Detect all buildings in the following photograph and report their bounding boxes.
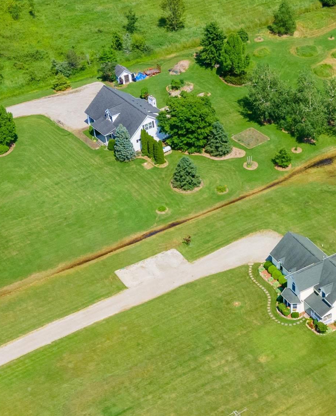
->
[113,65,132,85]
[269,231,336,324]
[84,85,166,152]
